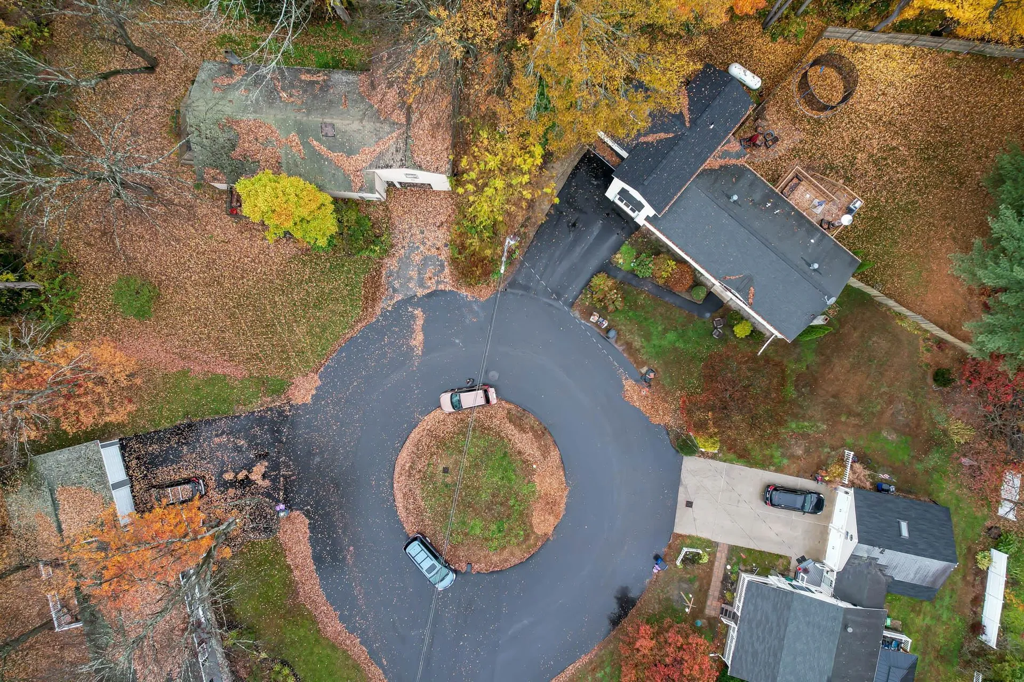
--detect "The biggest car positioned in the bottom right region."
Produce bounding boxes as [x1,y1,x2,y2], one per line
[762,484,825,516]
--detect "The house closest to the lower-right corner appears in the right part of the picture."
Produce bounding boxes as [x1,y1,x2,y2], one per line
[693,486,960,682]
